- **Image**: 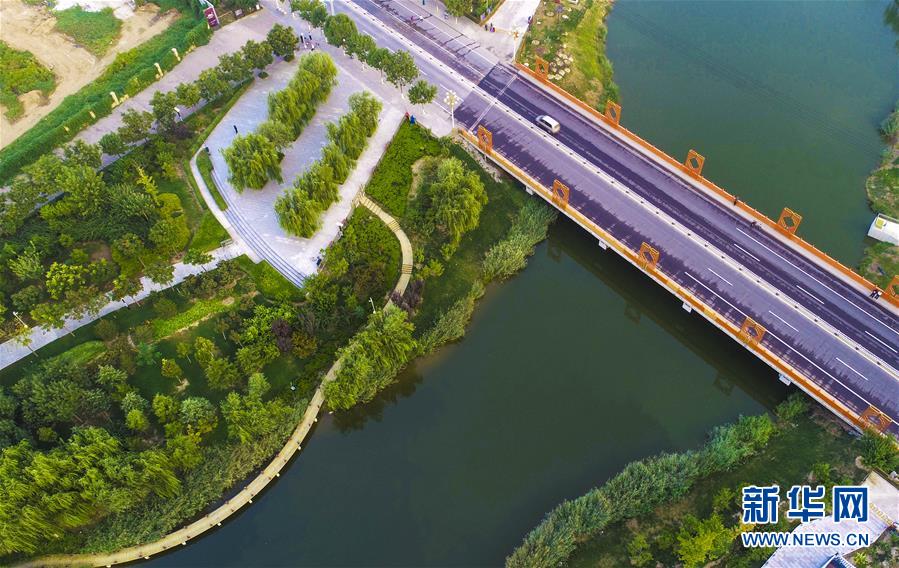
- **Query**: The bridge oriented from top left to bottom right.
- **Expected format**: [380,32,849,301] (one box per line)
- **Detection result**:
[450,56,899,460]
